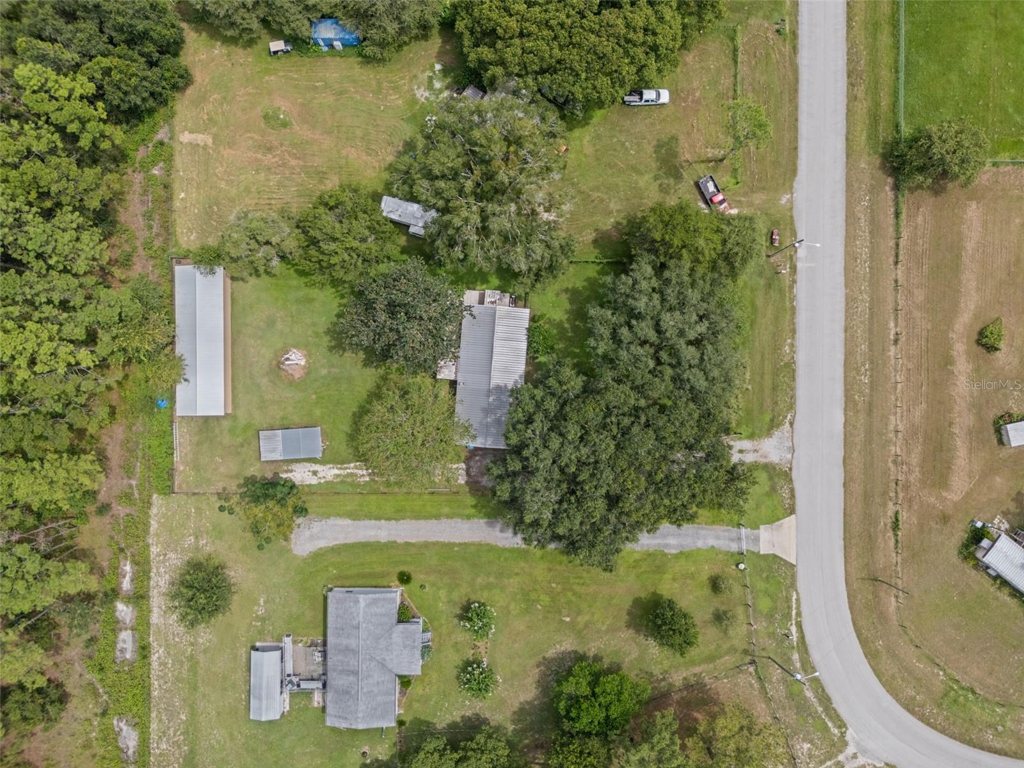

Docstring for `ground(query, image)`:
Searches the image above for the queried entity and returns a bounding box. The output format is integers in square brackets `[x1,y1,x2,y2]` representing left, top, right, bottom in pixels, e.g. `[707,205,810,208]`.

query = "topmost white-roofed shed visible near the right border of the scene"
[988,417,1024,447]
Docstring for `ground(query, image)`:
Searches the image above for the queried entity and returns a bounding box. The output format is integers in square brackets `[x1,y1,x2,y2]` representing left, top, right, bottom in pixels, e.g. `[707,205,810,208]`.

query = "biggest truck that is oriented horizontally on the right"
[622,87,669,108]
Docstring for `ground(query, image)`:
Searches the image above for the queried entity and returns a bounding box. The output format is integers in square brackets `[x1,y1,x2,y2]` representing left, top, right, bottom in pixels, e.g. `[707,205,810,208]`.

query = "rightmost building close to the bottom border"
[326,585,422,731]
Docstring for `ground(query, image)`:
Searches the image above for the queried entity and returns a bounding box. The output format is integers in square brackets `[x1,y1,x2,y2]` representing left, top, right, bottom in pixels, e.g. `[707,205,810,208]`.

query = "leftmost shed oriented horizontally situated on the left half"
[259,427,323,460]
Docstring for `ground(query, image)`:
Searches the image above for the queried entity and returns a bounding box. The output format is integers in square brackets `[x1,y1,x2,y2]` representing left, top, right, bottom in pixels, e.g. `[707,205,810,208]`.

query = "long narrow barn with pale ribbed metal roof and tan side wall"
[175,265,231,416]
